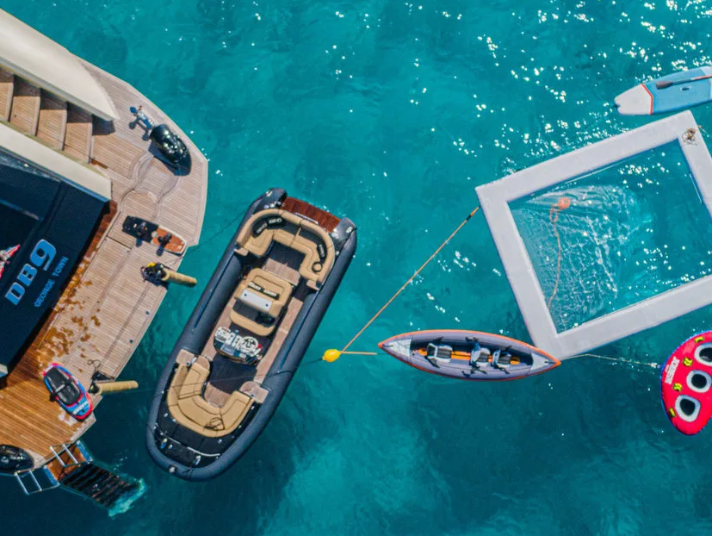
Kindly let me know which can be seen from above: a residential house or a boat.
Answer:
boat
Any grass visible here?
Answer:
No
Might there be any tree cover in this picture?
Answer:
No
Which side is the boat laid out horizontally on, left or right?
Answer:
right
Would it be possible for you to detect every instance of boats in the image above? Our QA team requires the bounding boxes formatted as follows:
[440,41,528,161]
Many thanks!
[146,186,359,481]
[0,8,212,509]
[374,325,563,379]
